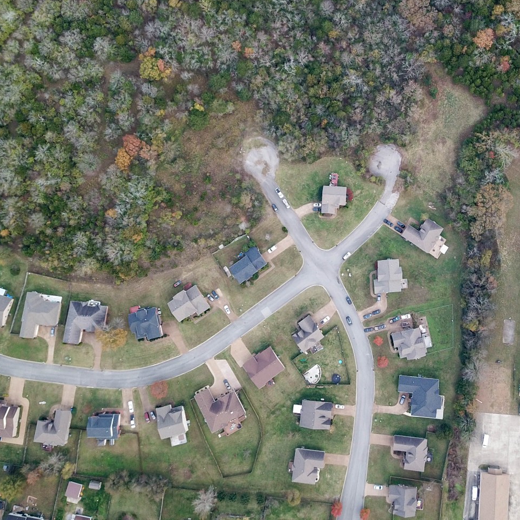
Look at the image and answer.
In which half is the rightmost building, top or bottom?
bottom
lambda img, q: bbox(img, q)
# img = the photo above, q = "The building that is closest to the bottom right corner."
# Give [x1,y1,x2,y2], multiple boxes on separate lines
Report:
[478,467,510,520]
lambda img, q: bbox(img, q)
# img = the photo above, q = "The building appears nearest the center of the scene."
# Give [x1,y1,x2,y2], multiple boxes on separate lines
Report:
[229,247,266,284]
